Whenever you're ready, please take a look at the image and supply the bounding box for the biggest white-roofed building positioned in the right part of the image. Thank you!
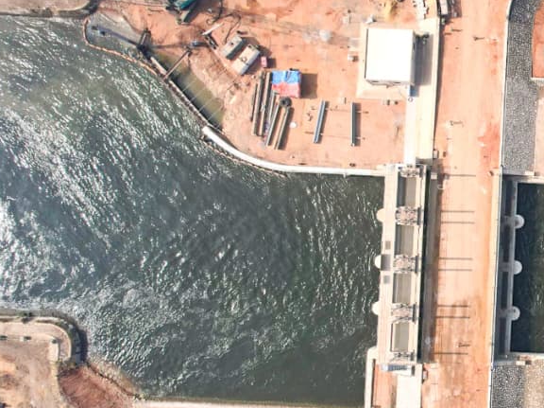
[356,22,419,95]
